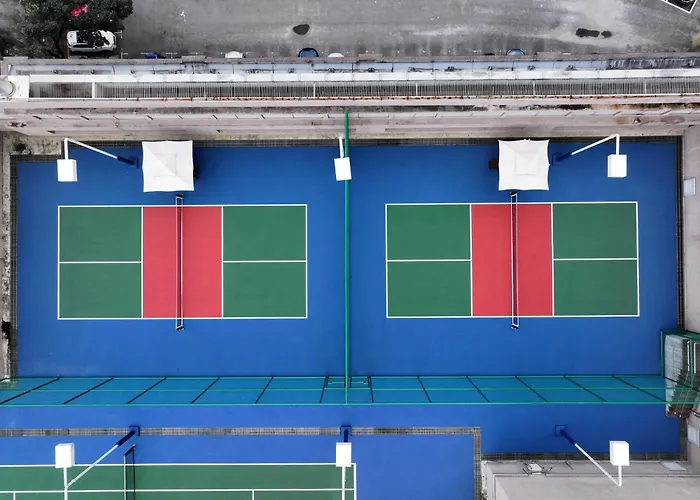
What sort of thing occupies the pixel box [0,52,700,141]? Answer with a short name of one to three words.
building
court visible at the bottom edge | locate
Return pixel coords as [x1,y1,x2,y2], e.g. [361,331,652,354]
[0,434,475,500]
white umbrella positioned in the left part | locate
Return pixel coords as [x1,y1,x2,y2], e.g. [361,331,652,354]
[142,140,196,194]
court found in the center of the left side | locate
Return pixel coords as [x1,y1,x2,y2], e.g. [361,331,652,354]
[17,146,346,380]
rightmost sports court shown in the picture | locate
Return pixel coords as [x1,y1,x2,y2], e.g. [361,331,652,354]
[348,144,677,377]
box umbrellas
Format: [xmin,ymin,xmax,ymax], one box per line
[496,139,550,192]
[142,140,196,194]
